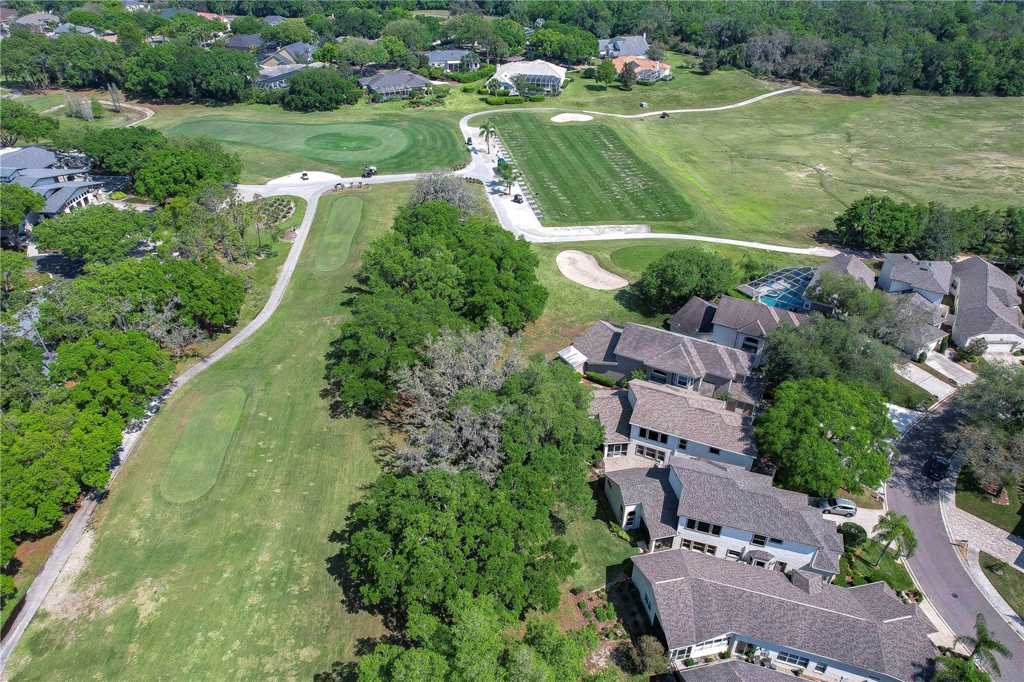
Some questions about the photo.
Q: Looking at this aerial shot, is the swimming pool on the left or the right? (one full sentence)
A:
The swimming pool appears in the right half of the scene.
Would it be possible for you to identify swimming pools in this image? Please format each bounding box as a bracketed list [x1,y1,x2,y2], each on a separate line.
[760,281,809,310]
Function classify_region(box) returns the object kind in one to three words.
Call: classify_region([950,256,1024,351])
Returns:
house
